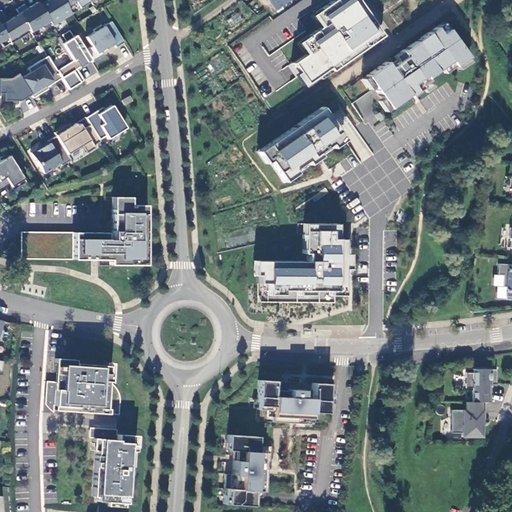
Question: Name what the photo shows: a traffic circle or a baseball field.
traffic circle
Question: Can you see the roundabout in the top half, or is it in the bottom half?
bottom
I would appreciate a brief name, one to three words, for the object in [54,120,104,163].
house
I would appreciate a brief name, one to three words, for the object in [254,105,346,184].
building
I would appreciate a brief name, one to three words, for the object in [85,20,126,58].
house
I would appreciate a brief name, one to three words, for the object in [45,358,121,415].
building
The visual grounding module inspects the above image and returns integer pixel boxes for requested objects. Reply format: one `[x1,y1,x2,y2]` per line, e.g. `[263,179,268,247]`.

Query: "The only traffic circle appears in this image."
[122,270,258,405]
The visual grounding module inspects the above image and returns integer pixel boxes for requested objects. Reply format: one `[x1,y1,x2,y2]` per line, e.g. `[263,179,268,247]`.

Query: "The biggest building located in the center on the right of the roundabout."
[250,222,356,304]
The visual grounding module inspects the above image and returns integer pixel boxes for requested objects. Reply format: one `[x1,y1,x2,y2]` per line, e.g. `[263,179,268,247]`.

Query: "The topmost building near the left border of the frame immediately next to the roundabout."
[20,197,152,267]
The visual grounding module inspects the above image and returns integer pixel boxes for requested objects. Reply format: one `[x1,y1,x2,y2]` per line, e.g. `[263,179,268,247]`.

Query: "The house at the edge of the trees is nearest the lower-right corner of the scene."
[450,369,498,438]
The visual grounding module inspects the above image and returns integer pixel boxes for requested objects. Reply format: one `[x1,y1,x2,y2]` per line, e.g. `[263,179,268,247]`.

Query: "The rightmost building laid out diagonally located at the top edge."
[358,19,475,116]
